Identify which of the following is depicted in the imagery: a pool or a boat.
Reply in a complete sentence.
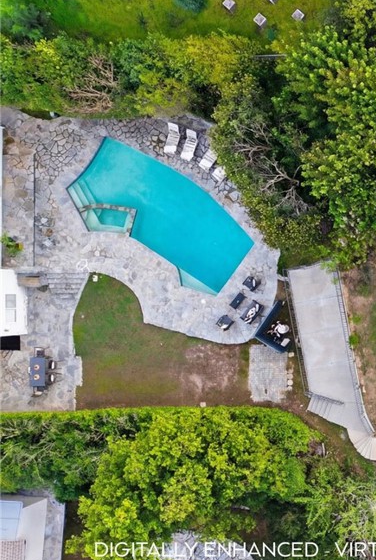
I can see a pool in this picture.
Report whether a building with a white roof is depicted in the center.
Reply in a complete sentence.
No, there's no building with a white roof to be seen in the center.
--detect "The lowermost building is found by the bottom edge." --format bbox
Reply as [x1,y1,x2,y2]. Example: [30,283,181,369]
[0,498,49,560]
